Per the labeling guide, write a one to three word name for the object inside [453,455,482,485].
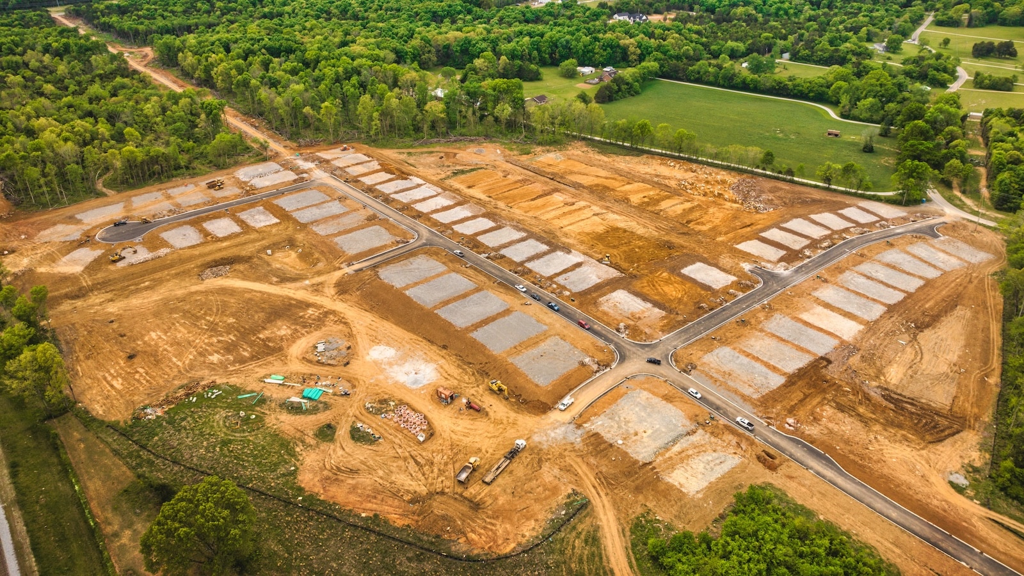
truck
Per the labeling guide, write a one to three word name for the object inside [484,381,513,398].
work vehicle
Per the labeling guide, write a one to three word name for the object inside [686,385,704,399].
car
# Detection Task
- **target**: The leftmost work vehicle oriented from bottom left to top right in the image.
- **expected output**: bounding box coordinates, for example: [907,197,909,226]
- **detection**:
[104,240,140,263]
